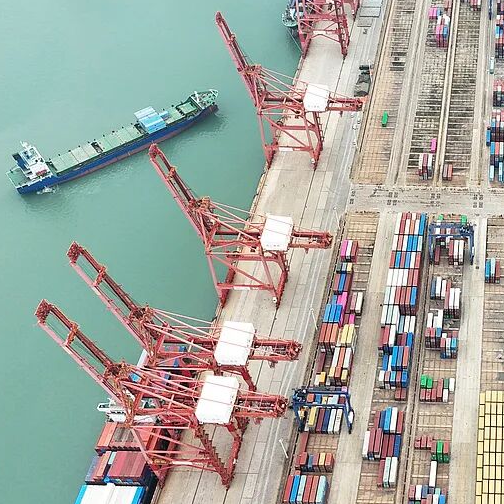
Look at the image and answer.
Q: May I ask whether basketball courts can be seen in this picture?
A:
No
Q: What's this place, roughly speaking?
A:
port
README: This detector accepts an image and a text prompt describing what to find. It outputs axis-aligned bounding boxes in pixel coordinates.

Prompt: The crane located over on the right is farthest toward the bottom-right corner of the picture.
[289,386,353,432]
